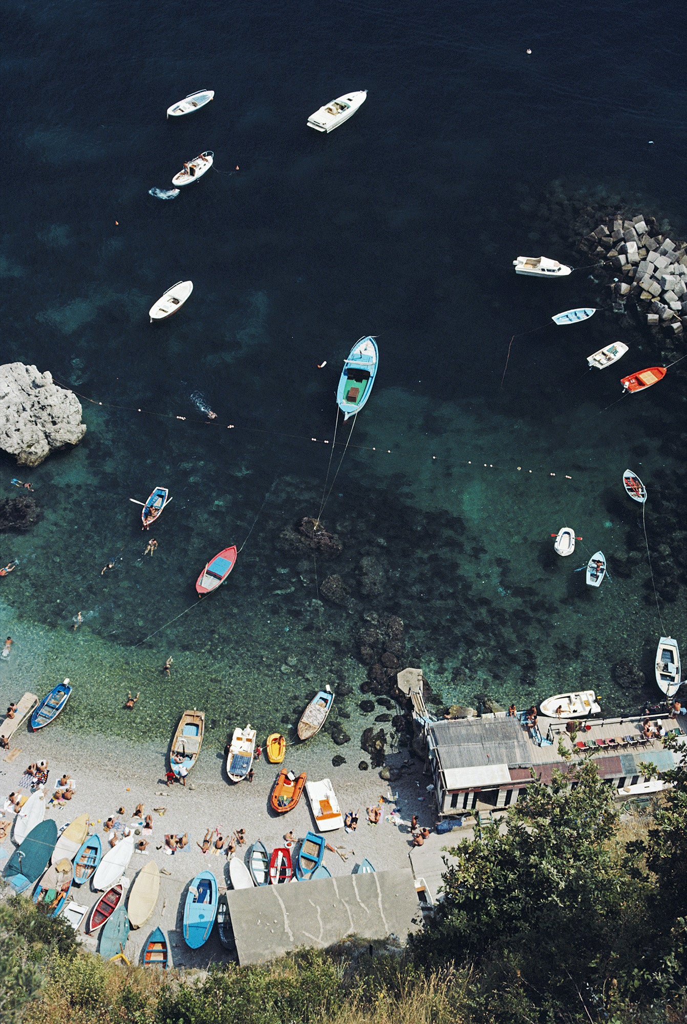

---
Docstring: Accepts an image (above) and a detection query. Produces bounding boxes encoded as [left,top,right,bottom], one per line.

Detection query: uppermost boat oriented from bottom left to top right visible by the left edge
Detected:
[32,674,71,730]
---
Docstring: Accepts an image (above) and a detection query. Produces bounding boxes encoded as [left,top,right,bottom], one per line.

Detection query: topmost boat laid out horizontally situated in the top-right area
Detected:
[510,258,571,283]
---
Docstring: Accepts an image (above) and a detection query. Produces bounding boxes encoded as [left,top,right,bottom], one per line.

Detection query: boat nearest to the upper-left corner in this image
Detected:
[167,91,215,122]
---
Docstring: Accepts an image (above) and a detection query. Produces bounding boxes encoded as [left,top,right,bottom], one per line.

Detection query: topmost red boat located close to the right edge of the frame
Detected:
[617,367,666,396]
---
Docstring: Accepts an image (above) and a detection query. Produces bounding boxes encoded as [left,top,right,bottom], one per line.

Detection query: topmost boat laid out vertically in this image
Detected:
[343,335,381,424]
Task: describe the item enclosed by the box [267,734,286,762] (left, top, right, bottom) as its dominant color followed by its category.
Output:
yellow boat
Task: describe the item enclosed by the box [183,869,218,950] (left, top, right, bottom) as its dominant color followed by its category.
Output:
blue boat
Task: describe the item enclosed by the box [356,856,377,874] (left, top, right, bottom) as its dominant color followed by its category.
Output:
white boat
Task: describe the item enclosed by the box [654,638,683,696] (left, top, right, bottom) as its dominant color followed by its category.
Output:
white boat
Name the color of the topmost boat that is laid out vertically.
blue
